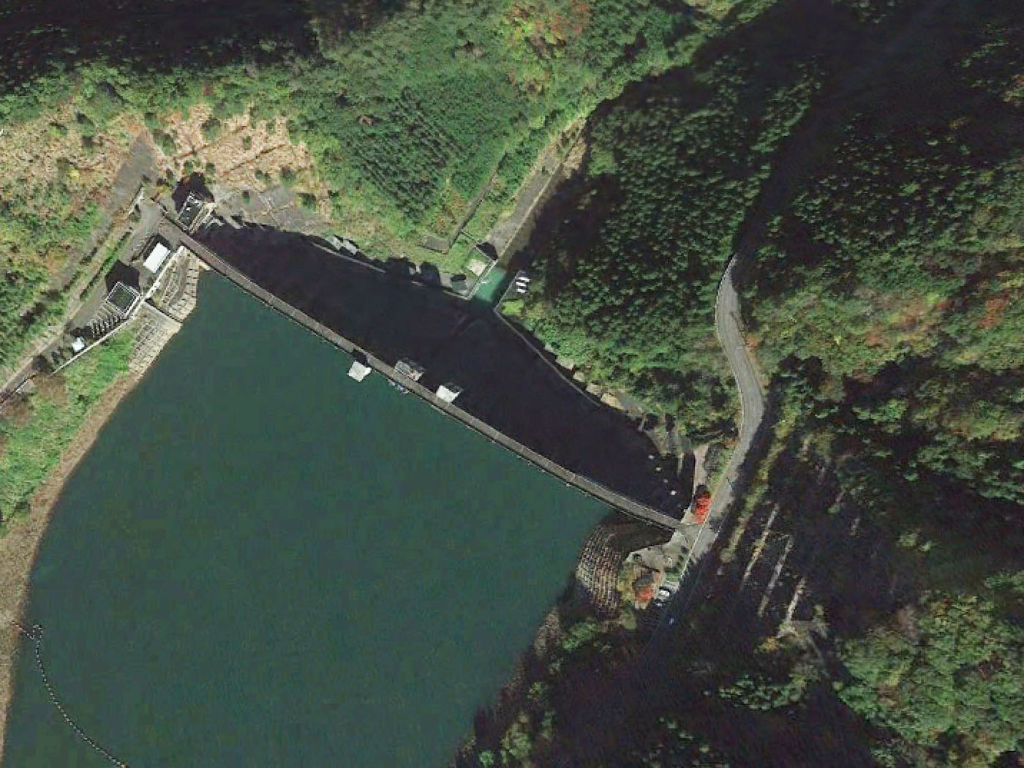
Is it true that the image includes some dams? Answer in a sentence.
Yes, there's a dam down there.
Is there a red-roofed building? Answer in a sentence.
No, I can't see a single red-roofed building in this photo.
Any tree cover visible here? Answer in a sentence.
Yes, the picture does contain tree cover.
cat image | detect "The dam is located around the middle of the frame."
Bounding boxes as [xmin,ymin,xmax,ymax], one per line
[160,215,683,535]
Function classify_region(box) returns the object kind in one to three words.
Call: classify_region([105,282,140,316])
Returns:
building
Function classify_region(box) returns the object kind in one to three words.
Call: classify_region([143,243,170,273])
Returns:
building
